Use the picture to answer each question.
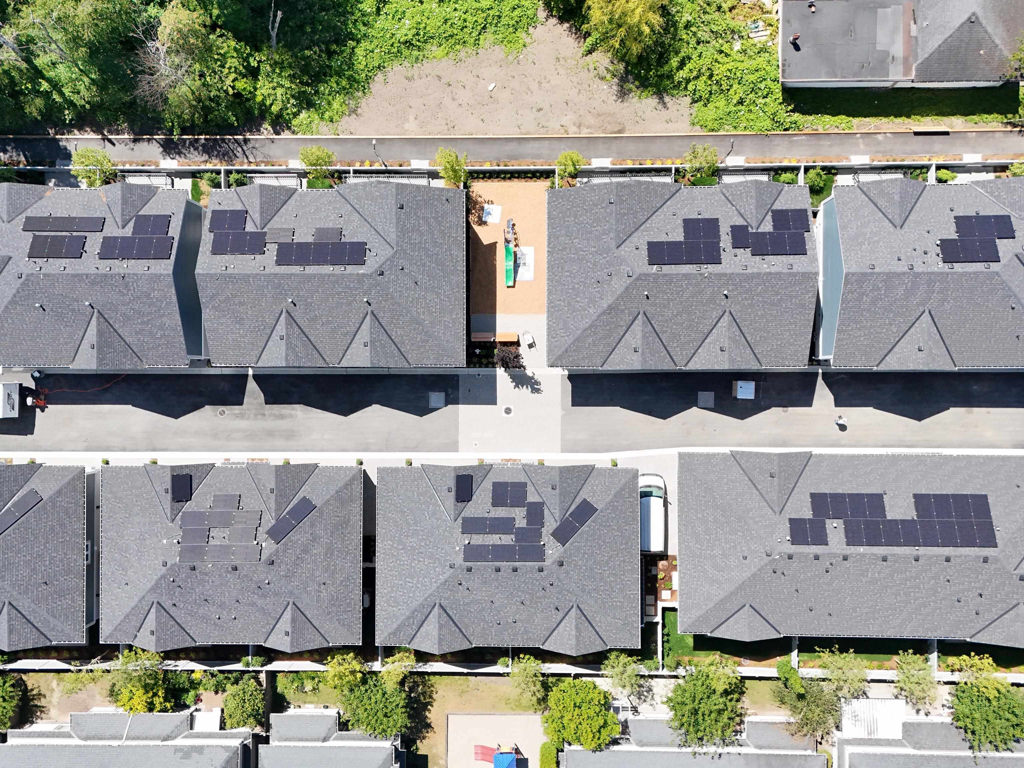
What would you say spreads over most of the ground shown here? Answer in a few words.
buildings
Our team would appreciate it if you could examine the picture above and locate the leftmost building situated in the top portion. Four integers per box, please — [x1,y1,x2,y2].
[0,174,209,366]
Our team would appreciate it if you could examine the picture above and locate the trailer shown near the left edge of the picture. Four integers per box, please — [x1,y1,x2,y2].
[0,384,44,418]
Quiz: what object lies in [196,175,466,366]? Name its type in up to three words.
house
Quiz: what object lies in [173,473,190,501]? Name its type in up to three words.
solar panel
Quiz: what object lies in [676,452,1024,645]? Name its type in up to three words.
house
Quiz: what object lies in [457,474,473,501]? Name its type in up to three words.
solar panel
